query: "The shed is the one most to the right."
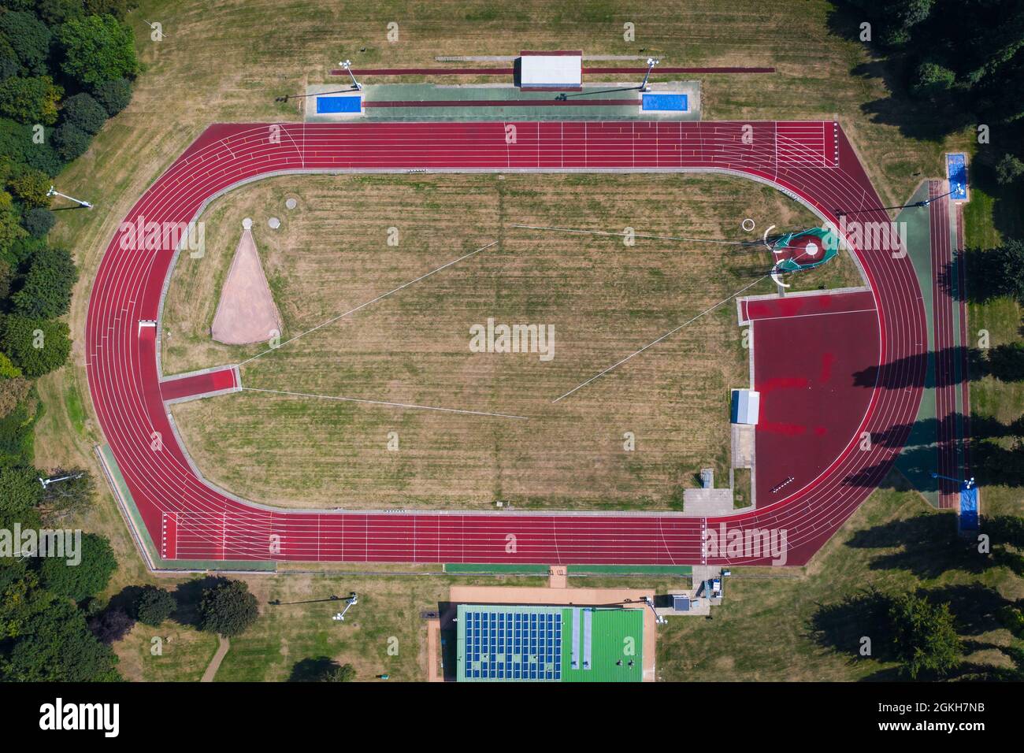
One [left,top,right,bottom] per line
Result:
[674,595,692,614]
